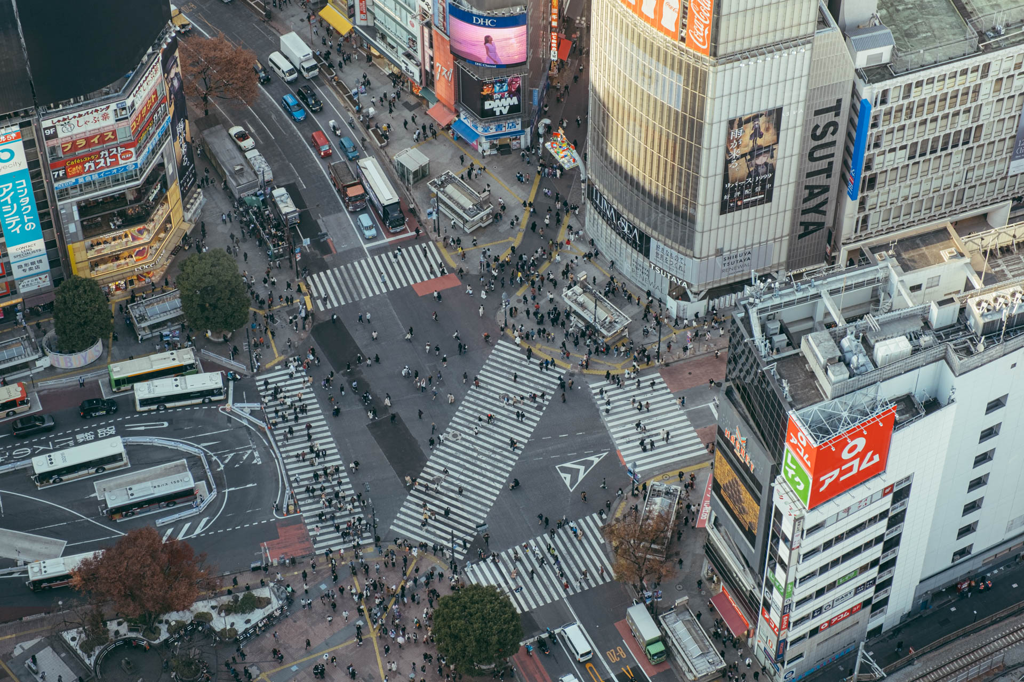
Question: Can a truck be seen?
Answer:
Yes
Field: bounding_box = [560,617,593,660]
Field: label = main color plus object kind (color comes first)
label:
white van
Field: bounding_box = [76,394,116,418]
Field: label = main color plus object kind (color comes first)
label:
black car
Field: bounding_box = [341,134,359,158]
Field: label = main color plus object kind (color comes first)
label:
blue car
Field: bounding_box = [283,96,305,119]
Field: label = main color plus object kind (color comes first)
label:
blue car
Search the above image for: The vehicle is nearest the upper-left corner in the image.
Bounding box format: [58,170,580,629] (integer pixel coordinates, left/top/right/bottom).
[168,0,193,29]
